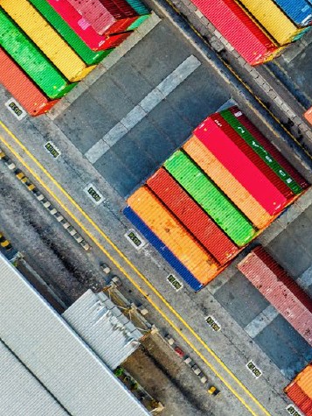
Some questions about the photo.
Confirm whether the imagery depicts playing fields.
No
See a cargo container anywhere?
Yes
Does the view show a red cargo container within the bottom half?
Yes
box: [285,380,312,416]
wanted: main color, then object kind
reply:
red shipping container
